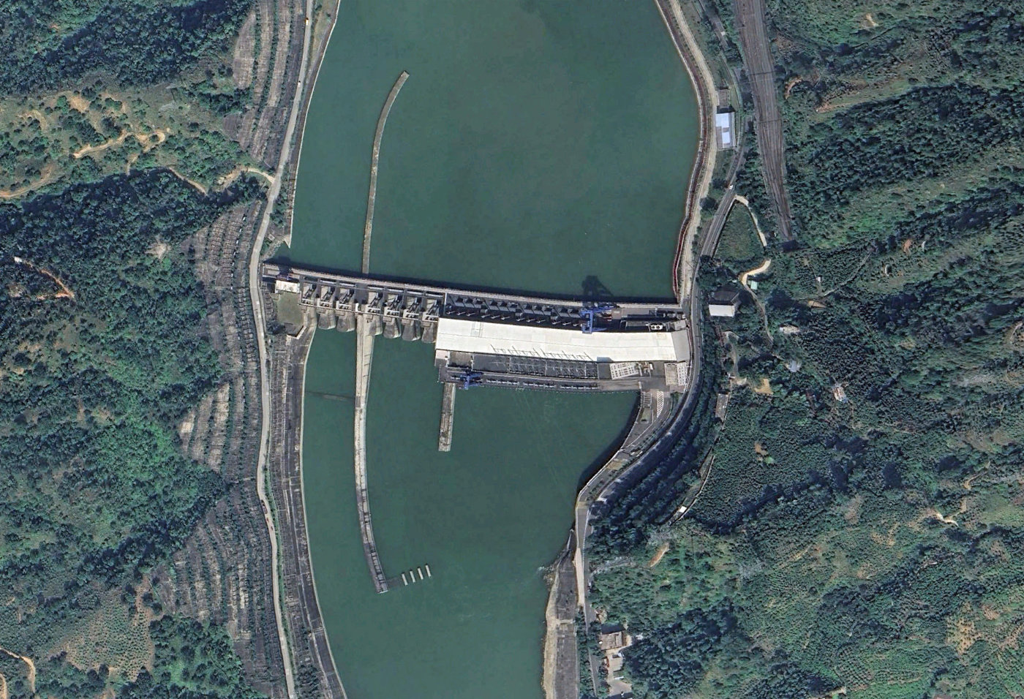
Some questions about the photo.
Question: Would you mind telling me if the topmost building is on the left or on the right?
right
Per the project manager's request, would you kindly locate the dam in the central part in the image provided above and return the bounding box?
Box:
[262,264,689,344]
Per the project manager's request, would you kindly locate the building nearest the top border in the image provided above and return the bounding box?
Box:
[716,112,736,147]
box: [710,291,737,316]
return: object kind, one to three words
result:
building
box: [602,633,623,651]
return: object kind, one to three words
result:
building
